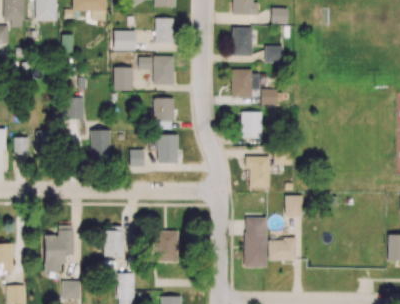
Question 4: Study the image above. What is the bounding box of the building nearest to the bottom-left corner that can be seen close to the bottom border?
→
[6,284,26,304]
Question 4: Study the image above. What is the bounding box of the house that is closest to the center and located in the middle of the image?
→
[156,134,182,162]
